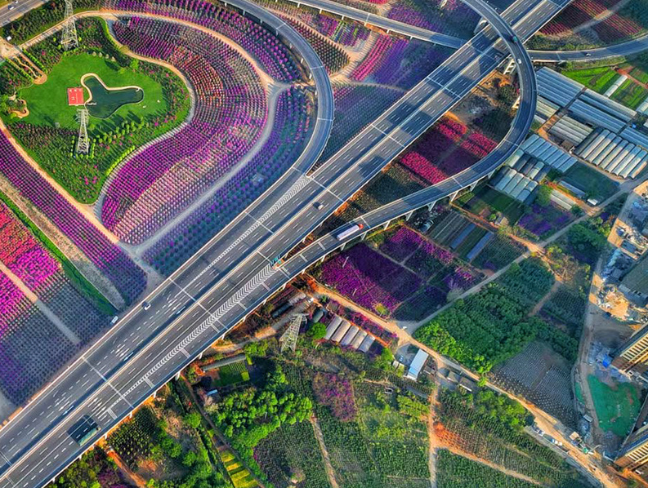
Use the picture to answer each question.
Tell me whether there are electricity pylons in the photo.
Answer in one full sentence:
Yes, the image includes an electricity pylon.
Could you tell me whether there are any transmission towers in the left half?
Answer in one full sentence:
Yes, you'll find a transmission tower in the left half.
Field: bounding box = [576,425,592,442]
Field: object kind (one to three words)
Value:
vehicle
